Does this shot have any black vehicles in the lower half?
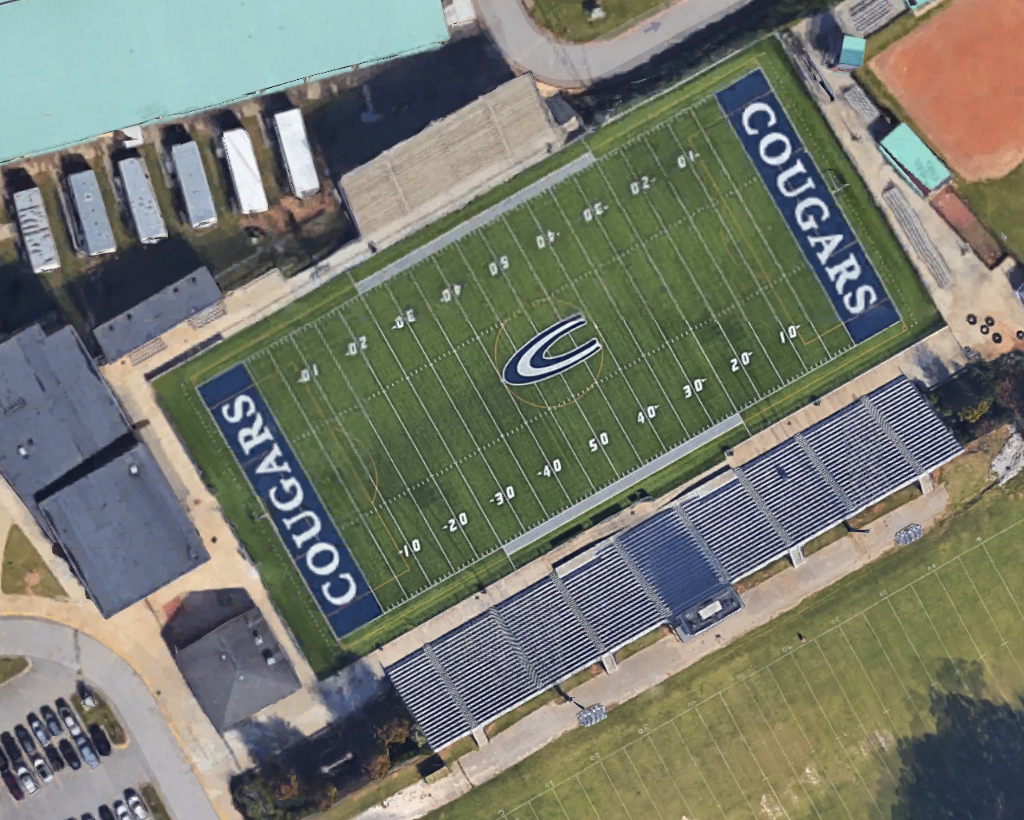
Yes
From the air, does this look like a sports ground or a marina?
sports ground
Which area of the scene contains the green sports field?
center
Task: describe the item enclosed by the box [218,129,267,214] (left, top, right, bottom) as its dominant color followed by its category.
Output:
white trailer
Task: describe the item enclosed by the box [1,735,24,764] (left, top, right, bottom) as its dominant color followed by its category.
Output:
black car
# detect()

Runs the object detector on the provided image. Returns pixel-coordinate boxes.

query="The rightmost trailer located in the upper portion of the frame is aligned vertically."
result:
[269,109,320,198]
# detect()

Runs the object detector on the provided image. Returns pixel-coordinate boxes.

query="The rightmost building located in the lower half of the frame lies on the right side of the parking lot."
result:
[175,606,302,733]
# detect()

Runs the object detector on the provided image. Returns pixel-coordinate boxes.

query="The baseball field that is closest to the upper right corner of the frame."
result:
[866,0,1024,255]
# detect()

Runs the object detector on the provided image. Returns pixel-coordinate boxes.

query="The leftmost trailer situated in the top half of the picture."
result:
[11,186,61,273]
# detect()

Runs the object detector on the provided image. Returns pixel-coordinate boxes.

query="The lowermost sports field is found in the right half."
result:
[423,484,1024,820]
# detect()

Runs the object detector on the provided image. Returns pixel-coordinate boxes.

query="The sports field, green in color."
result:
[151,34,944,679]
